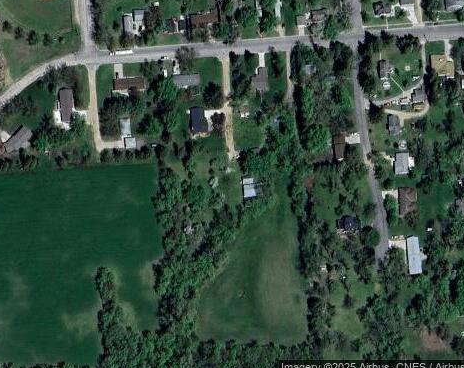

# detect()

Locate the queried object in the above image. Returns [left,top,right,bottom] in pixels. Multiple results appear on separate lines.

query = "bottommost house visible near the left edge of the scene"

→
[3,127,32,154]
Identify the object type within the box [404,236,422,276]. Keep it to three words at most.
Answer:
house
